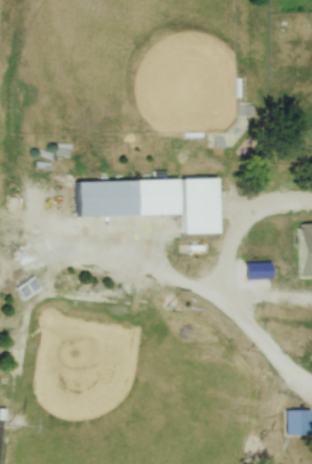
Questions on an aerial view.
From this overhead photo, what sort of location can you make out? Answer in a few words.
sports ground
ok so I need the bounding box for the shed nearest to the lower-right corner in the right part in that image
[284,410,312,438]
